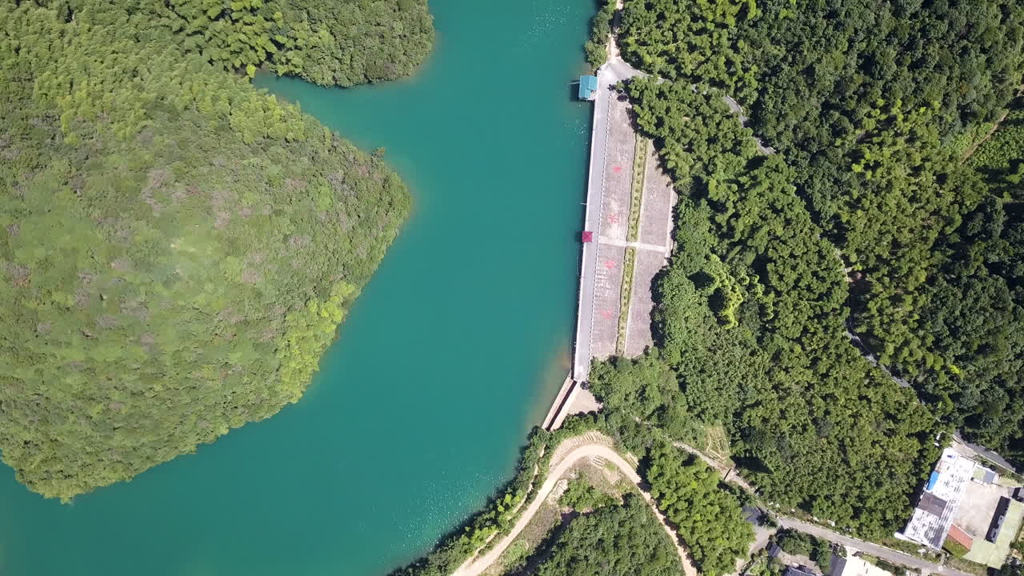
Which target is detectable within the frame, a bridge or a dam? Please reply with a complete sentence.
Of the two, only a dam appears.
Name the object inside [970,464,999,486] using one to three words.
shed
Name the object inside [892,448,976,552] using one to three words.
building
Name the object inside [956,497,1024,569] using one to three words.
building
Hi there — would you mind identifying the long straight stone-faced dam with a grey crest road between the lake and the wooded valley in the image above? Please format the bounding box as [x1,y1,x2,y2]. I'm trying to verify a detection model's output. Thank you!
[572,94,680,382]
